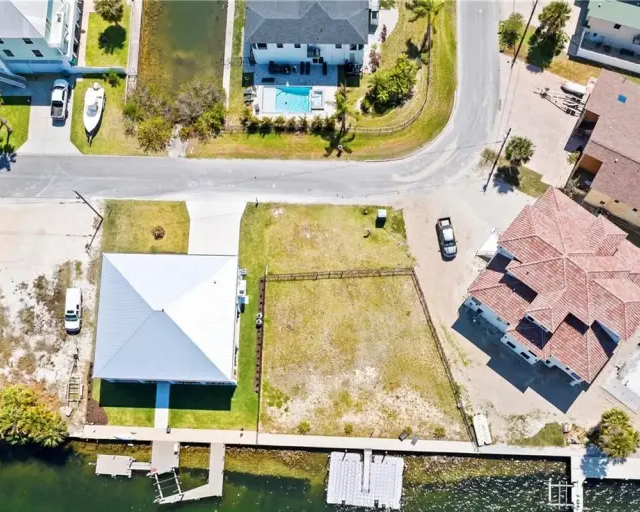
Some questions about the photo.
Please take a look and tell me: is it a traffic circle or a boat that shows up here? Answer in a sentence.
This aerial view contains a boat.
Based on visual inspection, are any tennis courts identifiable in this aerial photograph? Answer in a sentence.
No, there is no tennis court in the image.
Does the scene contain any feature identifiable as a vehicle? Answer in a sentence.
Yes, there's a vehicle here.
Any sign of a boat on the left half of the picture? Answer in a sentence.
Yes, looking on the left half of the picture, one can make out a boat.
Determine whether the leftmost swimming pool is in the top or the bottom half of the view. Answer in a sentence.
The top half of the photo is where the leftmost swimming pool is.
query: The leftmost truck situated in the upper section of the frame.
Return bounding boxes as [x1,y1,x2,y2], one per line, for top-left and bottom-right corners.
[49,77,70,121]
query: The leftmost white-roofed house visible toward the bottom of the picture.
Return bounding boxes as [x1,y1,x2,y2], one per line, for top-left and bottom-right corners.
[92,254,240,383]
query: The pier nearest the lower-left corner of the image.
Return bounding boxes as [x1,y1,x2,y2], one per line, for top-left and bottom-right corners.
[92,455,134,480]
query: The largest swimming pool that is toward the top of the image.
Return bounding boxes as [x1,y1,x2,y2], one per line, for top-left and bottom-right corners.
[261,84,312,114]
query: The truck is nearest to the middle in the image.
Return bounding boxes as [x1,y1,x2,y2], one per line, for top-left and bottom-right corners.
[433,215,459,261]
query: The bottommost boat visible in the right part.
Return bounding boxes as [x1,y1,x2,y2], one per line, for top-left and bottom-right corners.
[561,82,586,99]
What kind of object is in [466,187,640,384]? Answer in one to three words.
house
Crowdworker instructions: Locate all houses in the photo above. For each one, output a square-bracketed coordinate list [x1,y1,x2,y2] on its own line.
[576,69,640,226]
[245,0,379,63]
[466,187,640,384]
[0,0,83,91]
[92,254,240,383]
[578,0,640,54]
